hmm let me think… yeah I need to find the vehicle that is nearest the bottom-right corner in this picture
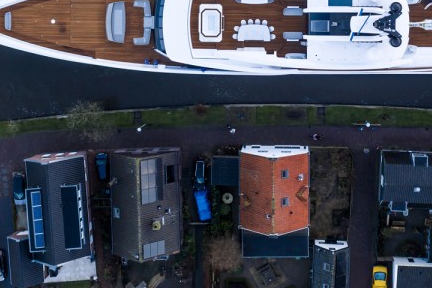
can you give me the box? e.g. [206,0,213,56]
[373,262,390,288]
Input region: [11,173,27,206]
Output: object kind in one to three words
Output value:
car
